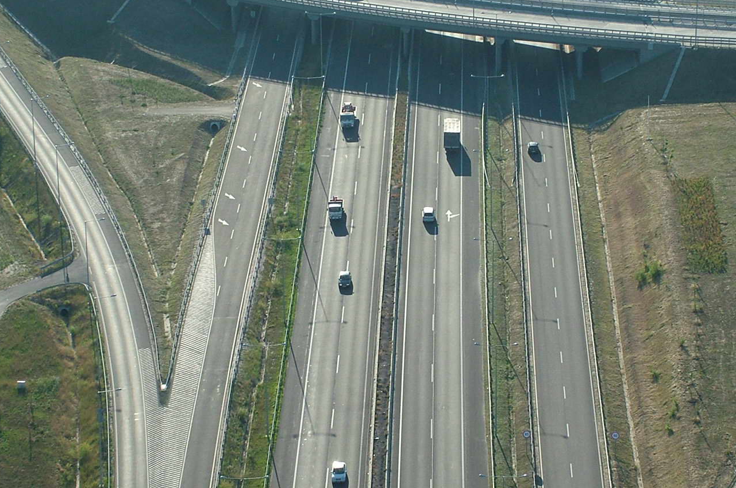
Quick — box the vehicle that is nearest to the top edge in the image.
[338,97,357,127]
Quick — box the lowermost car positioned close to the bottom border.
[331,460,348,481]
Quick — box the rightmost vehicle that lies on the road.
[527,140,539,152]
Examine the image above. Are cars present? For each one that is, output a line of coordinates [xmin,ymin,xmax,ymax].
[331,460,348,481]
[338,268,352,285]
[527,140,539,152]
[422,208,435,220]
